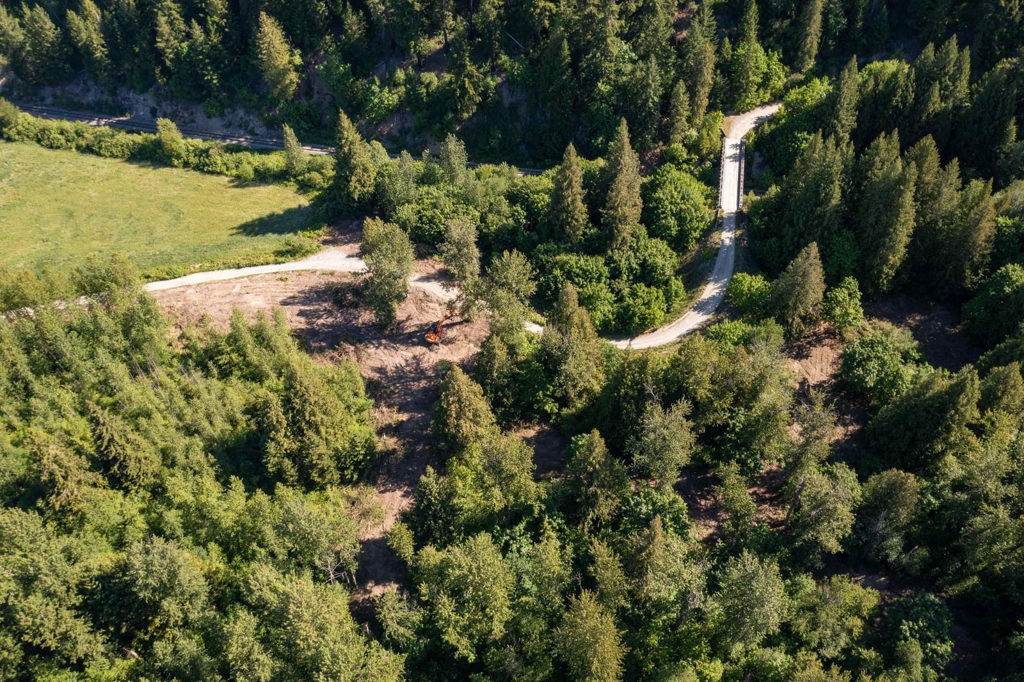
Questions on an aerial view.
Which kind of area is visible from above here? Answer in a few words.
forest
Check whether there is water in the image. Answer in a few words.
No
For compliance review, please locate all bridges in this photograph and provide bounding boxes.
[718,133,745,214]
